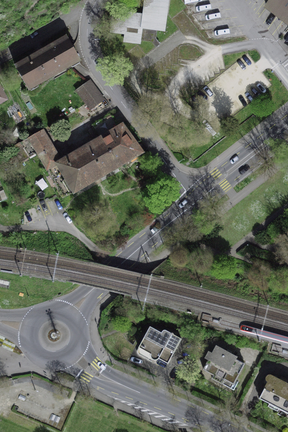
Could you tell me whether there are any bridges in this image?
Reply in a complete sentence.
Yes, this view includes a bridge.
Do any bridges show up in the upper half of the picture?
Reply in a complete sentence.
No, looking in the upper half of the picture, there is no bridge.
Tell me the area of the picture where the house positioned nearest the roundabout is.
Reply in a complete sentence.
Look in the bottom portion of the view to spot the house positioned nearest the roundabout.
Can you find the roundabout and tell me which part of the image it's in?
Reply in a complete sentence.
The roundabout is located in the bottom left region of the scene.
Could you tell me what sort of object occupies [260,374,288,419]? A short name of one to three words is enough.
house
